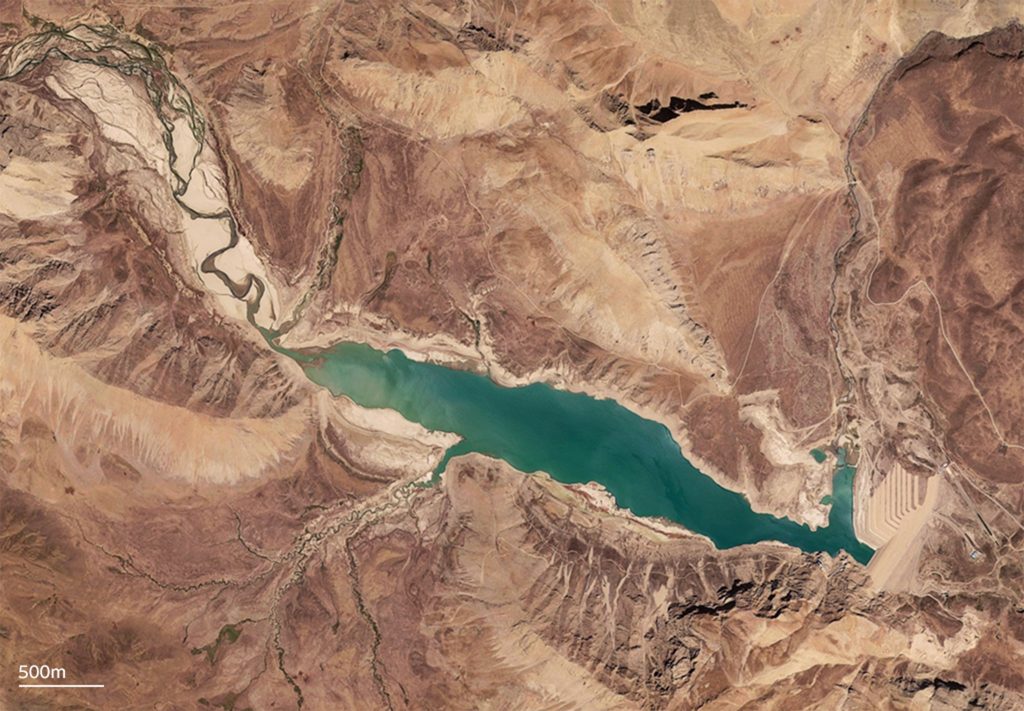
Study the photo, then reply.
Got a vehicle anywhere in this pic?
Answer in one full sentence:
No, the photo shows no vehicle.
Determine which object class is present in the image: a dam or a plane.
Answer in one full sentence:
Looking from above, you can make out a dam.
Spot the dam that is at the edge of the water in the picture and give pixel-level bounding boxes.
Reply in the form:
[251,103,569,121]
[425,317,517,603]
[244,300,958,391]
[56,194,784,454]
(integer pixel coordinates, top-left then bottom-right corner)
[865,467,944,592]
